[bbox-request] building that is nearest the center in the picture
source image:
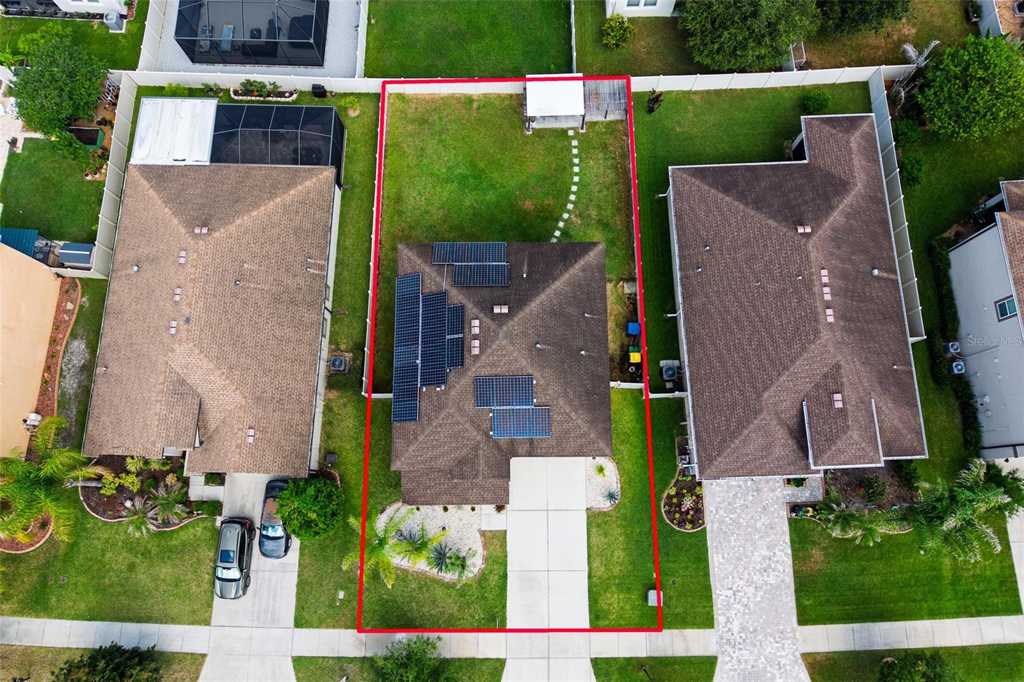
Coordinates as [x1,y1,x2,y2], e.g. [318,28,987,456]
[390,242,612,505]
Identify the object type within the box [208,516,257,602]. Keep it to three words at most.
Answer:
car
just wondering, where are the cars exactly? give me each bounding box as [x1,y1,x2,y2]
[252,479,293,562]
[208,516,257,602]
